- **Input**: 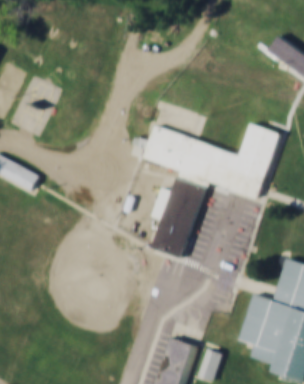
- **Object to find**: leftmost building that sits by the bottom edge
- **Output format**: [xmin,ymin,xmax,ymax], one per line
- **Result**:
[156,339,199,384]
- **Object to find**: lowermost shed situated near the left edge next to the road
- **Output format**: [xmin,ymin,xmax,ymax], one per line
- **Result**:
[0,154,41,189]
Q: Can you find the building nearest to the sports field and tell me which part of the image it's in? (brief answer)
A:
center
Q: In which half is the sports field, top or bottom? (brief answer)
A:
bottom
